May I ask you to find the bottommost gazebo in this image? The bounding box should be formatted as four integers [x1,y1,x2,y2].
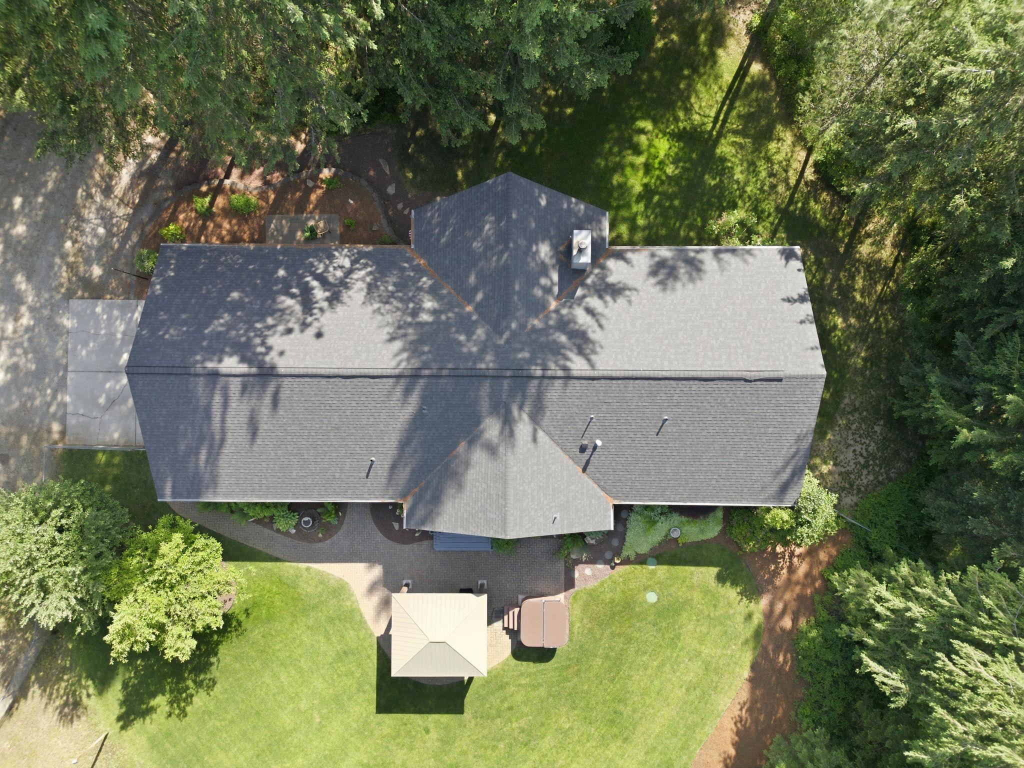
[391,581,488,678]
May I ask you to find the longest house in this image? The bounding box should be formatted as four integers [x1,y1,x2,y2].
[125,172,827,539]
